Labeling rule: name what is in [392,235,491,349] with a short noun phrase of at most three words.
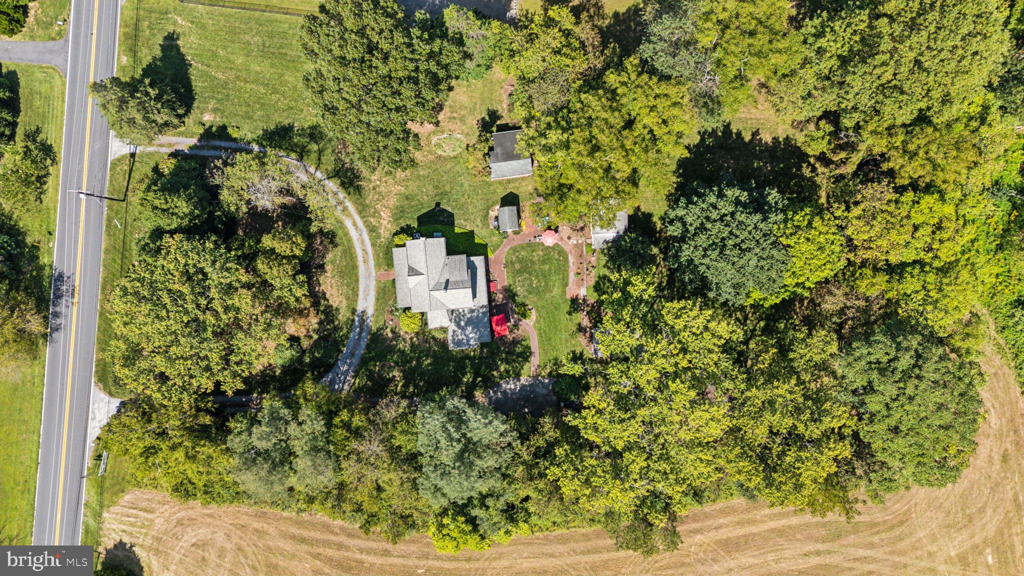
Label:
house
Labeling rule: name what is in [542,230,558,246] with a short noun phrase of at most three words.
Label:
umbrella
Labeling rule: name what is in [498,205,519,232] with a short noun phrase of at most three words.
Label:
shed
